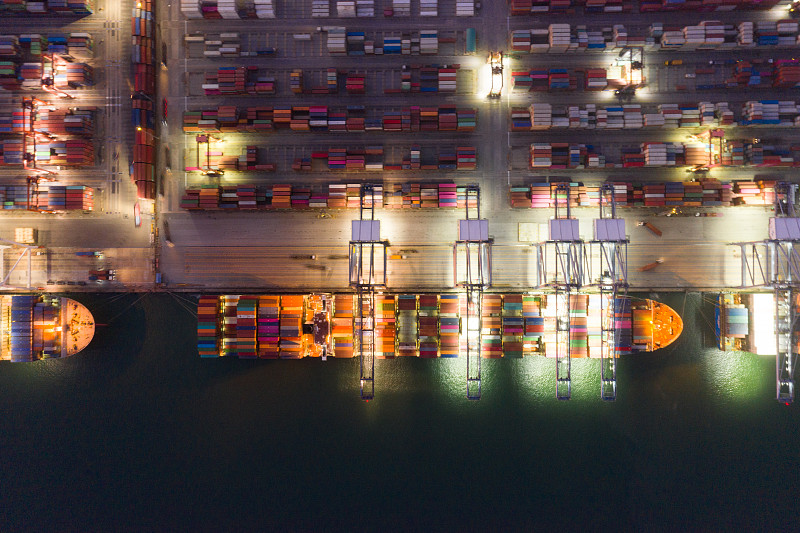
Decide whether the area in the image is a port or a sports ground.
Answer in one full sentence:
The picture captures a port.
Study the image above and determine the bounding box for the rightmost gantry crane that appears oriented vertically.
[727,184,800,404]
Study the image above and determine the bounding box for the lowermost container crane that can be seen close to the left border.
[0,239,46,288]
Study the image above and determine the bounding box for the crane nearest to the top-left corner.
[41,53,77,97]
